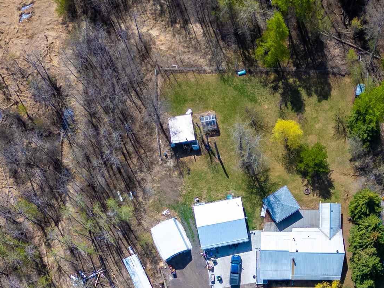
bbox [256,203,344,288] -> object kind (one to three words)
house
